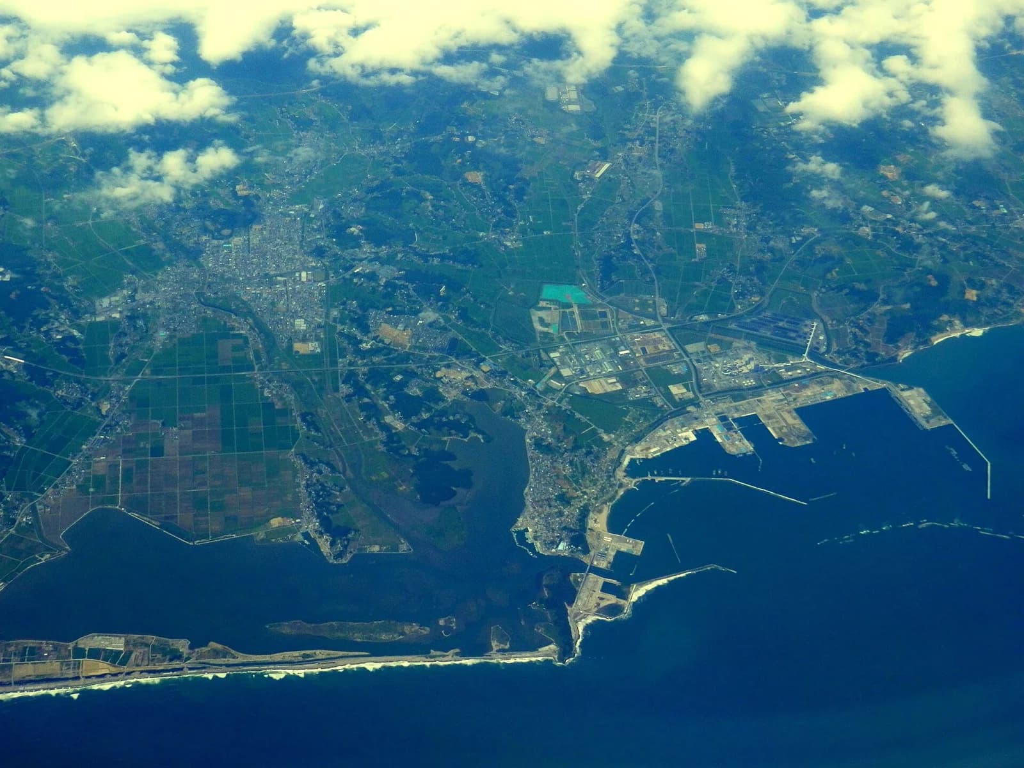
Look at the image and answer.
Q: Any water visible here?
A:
Yes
